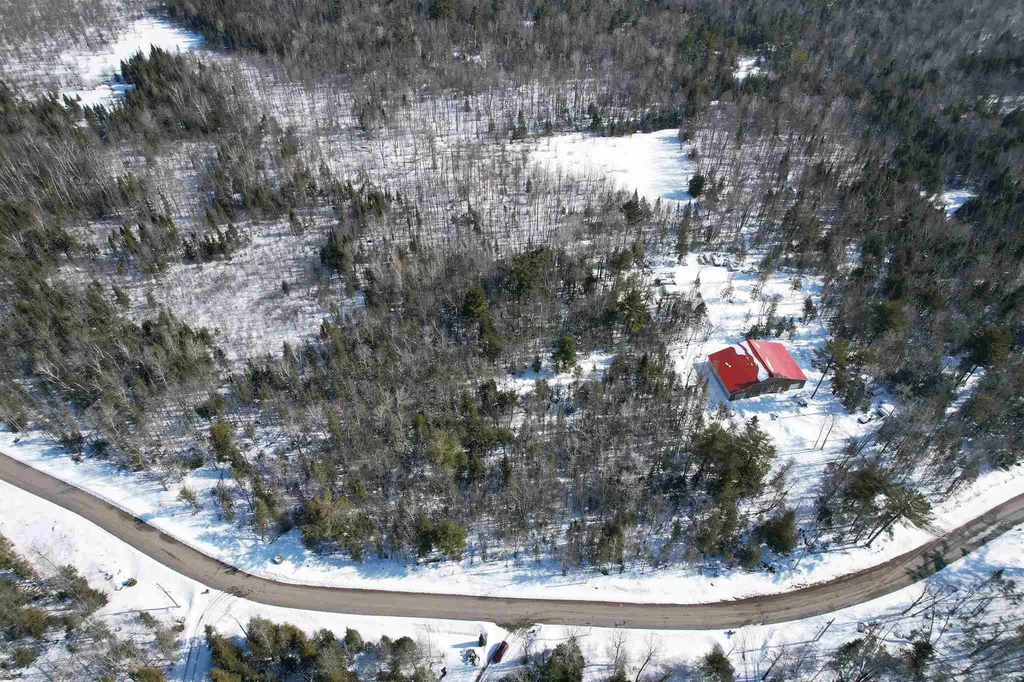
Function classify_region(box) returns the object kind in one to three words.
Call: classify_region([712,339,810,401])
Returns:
barn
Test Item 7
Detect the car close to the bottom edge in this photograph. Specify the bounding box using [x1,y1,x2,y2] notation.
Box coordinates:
[488,637,510,666]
